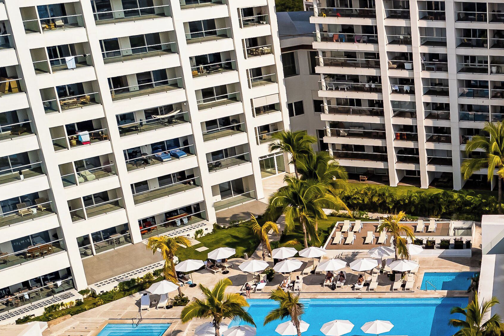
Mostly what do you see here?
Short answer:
buildings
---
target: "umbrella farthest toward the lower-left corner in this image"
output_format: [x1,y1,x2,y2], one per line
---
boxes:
[148,279,181,309]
